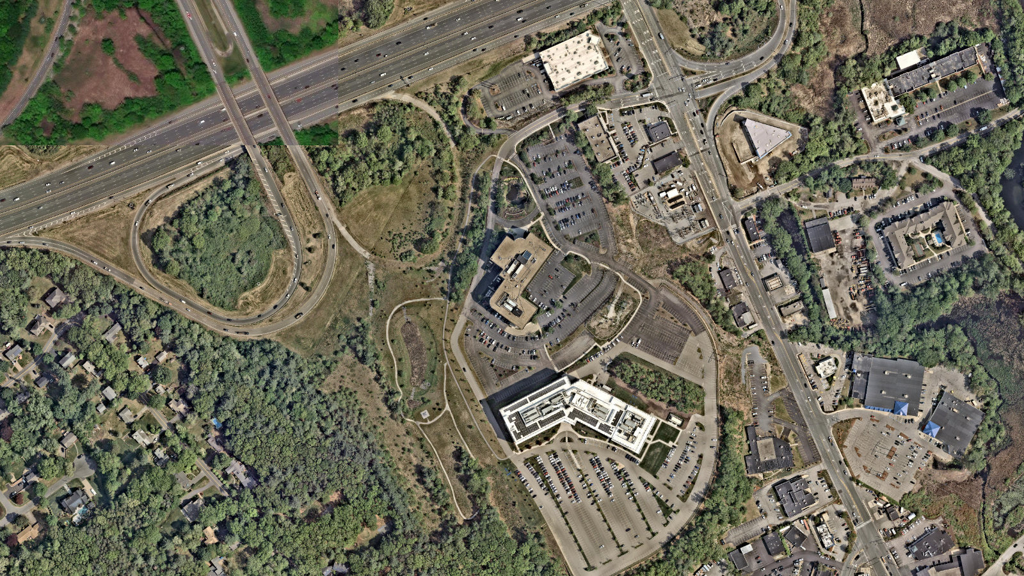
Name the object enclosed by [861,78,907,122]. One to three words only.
building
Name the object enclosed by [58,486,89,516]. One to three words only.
house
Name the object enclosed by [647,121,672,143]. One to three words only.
building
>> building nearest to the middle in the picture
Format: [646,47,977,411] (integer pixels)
[490,232,554,329]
